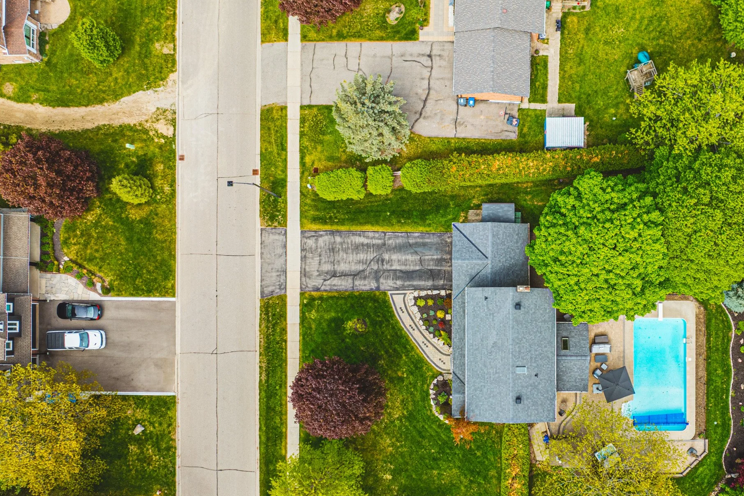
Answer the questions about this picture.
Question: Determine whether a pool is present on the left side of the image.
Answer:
No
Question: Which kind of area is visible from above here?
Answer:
residential area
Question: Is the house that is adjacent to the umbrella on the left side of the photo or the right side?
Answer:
right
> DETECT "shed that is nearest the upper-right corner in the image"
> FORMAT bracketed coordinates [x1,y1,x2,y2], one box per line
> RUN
[544,117,584,152]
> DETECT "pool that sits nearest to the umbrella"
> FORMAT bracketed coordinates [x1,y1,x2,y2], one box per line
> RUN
[621,318,687,433]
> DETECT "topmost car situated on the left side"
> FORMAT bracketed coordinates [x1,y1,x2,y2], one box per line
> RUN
[54,300,99,322]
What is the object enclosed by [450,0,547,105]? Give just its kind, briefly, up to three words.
house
